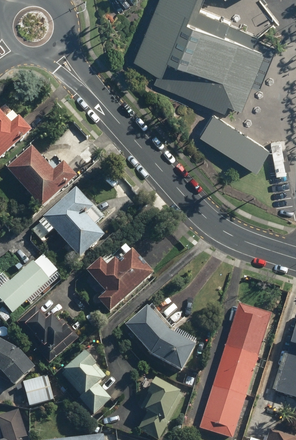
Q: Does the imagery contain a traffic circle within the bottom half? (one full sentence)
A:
No, no traffic circle appears within the bottom half.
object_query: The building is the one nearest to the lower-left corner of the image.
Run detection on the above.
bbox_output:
[0,410,26,440]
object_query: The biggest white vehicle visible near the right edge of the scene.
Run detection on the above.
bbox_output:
[271,140,286,180]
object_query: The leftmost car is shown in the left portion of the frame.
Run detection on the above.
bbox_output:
[16,248,29,262]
